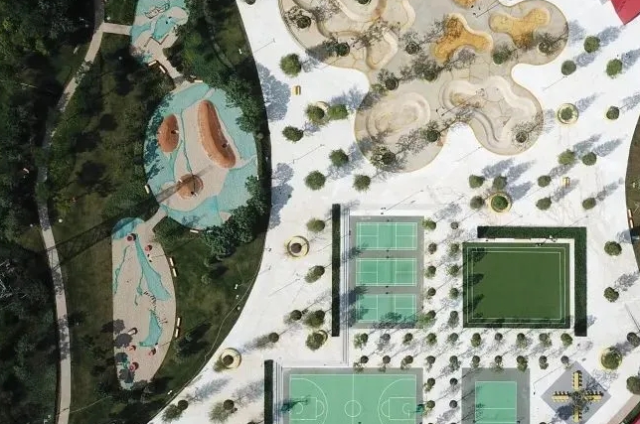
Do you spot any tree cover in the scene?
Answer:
Yes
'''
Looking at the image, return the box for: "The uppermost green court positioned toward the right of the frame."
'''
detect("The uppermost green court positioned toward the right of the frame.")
[356,219,417,252]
